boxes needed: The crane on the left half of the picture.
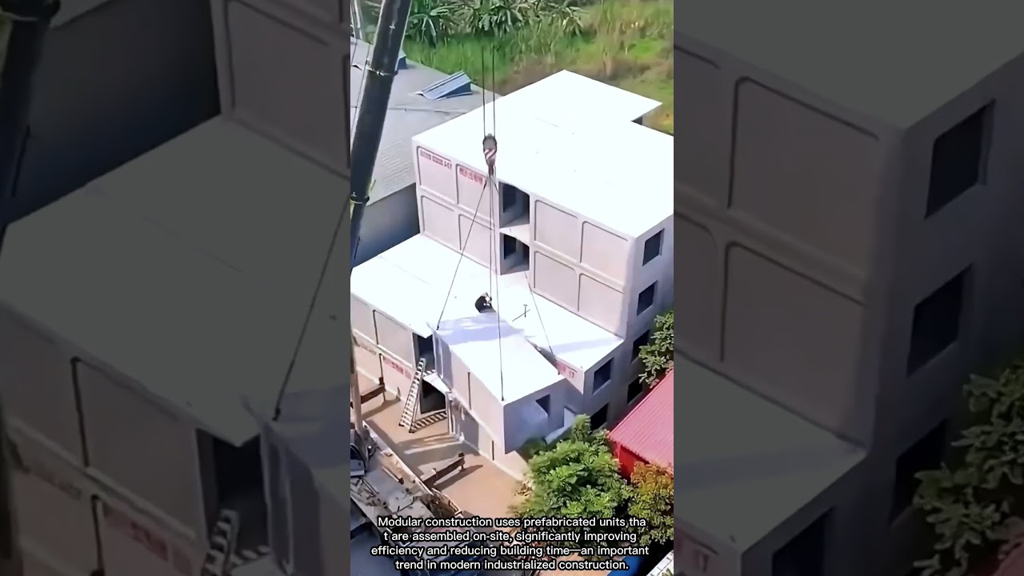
[260,0,476,576]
